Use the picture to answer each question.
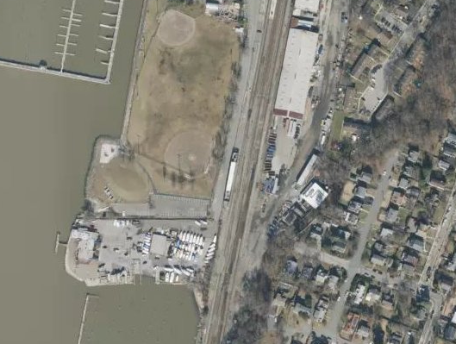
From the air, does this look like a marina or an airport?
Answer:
marina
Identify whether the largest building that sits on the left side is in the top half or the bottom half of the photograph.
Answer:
bottom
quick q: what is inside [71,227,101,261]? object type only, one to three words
building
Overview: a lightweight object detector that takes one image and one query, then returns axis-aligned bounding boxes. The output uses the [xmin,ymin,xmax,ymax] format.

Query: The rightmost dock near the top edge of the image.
[96,0,122,80]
